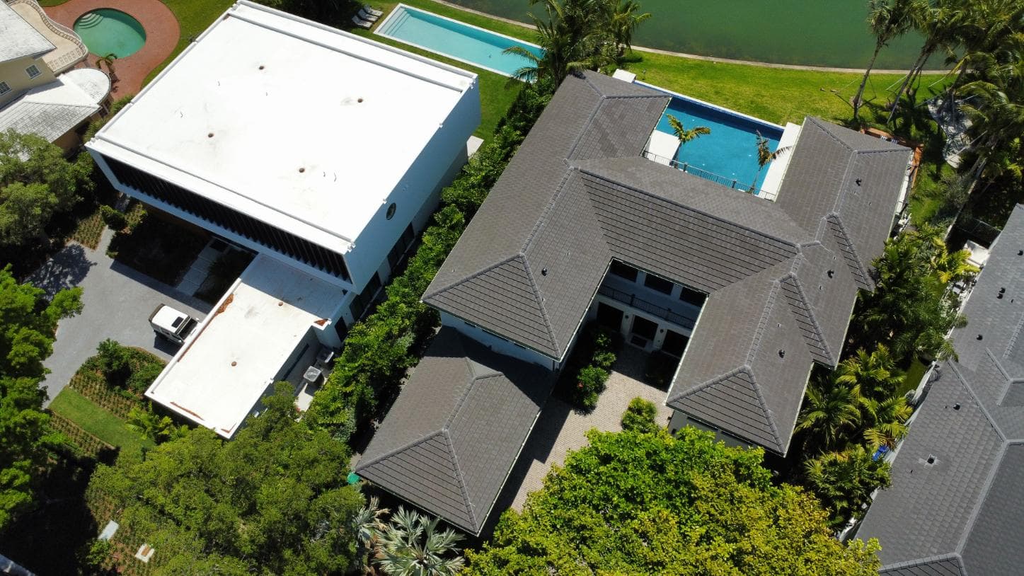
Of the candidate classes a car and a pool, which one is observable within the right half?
pool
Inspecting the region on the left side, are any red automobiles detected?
No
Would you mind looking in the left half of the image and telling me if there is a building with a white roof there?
Yes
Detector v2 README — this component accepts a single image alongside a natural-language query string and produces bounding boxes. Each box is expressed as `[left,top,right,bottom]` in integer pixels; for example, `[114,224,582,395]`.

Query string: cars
[150,305,201,346]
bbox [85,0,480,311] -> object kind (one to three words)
house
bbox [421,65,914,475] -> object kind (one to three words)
house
